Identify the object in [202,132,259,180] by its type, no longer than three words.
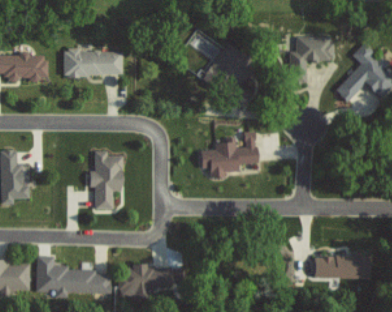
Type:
house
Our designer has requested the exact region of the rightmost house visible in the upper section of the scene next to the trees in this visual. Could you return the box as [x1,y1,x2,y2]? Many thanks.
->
[337,44,392,102]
